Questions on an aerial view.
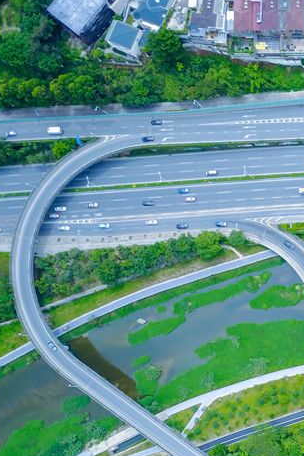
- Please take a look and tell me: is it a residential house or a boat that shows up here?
residential house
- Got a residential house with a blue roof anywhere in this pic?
Yes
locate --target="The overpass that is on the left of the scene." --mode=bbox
[8,139,213,456]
